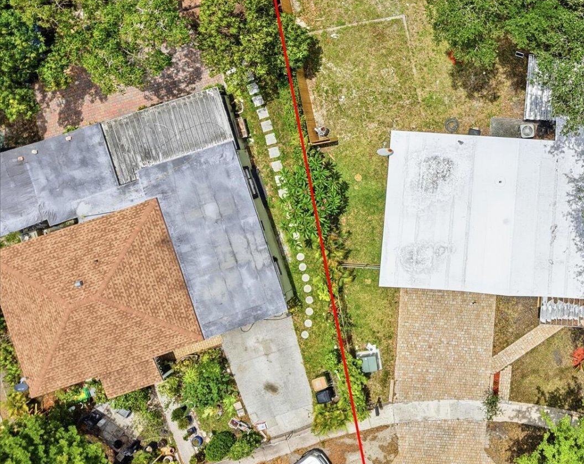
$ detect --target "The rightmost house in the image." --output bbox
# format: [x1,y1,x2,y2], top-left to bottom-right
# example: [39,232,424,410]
[379,116,584,300]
